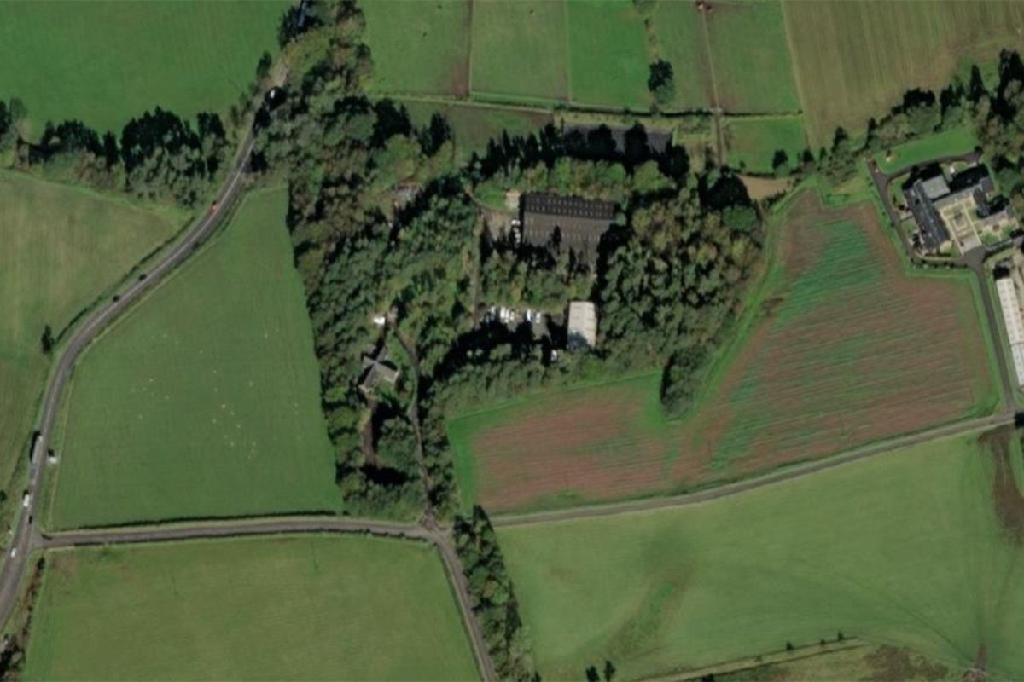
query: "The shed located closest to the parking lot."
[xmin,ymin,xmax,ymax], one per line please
[569,302,595,349]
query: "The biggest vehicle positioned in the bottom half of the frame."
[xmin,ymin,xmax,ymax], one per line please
[29,438,42,466]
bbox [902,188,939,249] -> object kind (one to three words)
building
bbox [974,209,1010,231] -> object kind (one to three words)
building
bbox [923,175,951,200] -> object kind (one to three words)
shed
